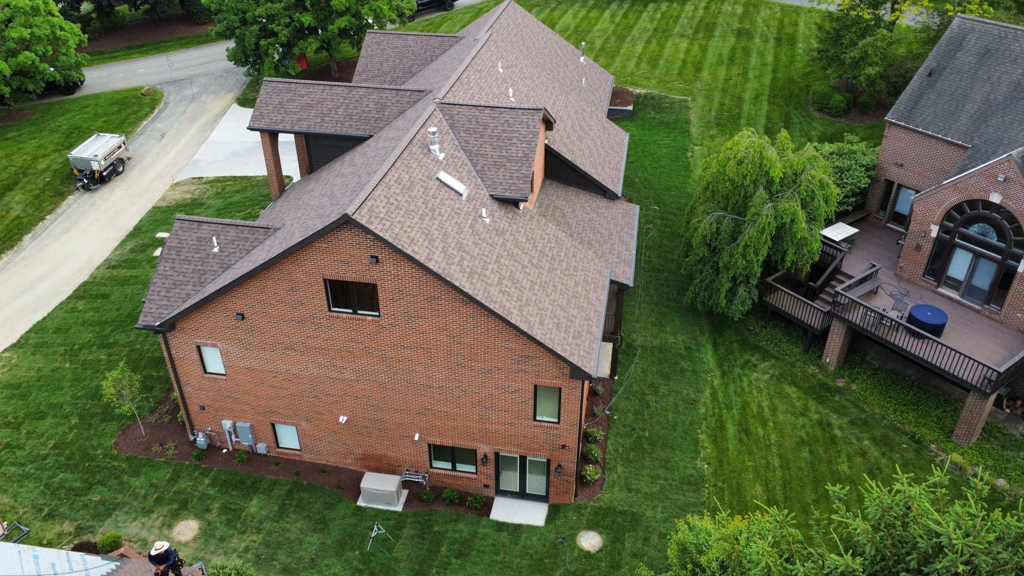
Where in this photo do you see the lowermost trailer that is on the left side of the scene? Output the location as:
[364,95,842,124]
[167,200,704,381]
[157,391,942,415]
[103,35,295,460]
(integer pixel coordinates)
[60,125,136,186]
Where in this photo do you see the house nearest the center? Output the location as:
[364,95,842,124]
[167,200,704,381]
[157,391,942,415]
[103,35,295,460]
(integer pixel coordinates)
[130,0,644,504]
